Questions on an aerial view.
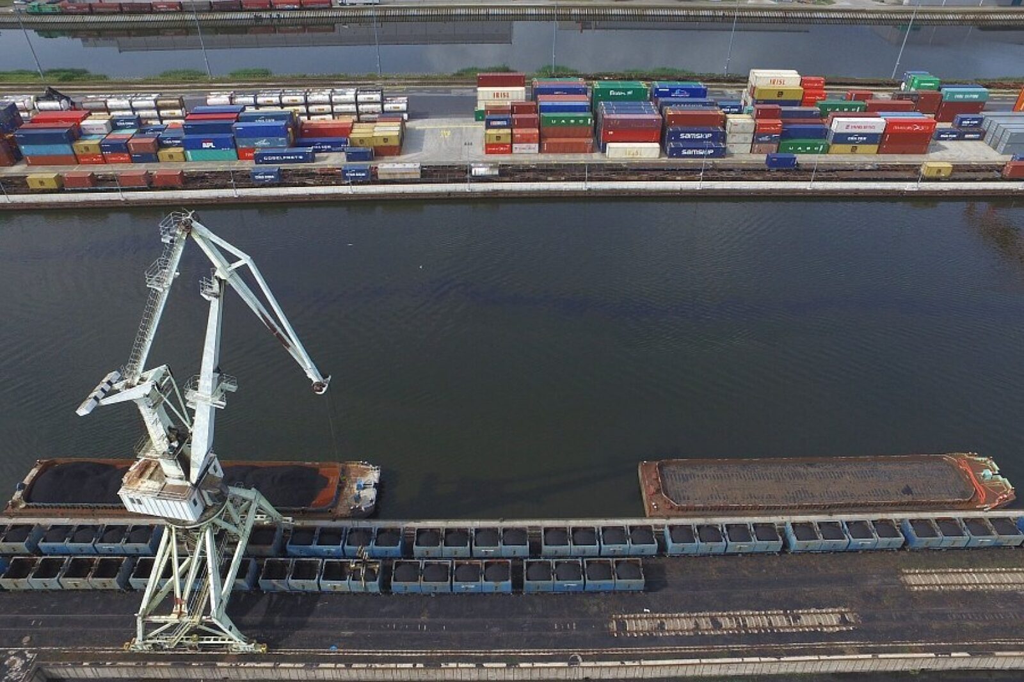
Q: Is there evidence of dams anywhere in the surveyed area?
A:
No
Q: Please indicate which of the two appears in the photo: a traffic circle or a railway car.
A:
railway car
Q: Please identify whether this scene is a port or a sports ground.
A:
port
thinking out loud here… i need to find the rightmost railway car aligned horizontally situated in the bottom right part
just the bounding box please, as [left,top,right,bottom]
[900,520,1024,555]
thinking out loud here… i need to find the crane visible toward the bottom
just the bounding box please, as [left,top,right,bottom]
[75,205,362,652]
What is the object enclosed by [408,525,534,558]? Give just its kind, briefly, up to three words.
rail car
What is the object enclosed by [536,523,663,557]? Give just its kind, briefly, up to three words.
rail car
